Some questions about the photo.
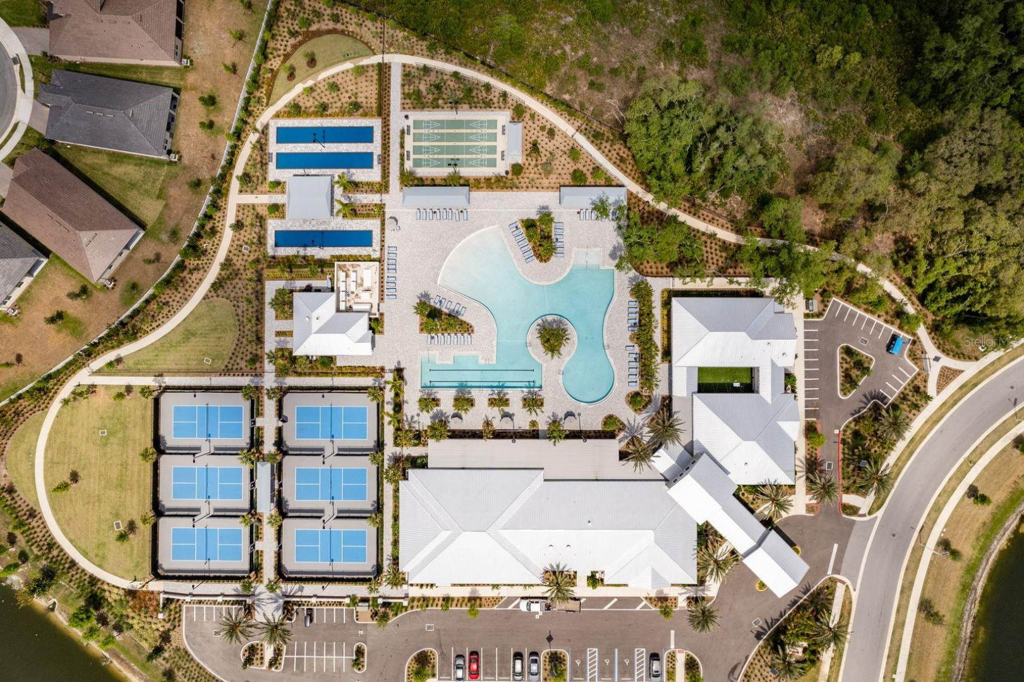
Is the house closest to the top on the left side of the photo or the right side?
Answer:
left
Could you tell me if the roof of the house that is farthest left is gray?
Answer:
Yes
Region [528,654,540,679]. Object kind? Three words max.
vehicle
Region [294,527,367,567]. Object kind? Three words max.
sports court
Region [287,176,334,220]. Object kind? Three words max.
building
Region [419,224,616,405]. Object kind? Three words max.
swimming pool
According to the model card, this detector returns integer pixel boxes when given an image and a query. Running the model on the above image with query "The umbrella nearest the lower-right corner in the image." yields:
[563,414,577,427]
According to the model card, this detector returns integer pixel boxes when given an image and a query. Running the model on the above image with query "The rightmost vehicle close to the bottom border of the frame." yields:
[650,654,662,679]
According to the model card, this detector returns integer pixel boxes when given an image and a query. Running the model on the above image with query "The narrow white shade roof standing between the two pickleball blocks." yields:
[257,462,274,512]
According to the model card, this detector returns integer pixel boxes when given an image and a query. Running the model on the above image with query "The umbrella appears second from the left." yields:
[450,414,464,427]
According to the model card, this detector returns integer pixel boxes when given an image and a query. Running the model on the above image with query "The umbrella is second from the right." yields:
[500,414,514,427]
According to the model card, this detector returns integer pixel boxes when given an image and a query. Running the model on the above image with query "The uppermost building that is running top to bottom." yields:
[509,122,522,157]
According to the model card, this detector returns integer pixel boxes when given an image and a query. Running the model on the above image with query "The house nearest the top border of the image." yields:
[49,0,190,65]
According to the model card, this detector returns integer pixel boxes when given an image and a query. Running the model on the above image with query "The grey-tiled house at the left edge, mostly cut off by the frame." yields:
[0,219,57,306]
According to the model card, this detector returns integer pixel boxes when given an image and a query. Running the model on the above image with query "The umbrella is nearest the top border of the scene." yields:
[384,219,397,233]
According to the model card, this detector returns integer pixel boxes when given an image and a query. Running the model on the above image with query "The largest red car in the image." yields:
[468,654,480,679]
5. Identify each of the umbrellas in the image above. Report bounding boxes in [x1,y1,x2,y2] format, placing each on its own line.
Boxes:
[384,219,397,233]
[450,414,464,427]
[563,414,577,427]
[500,414,514,427]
